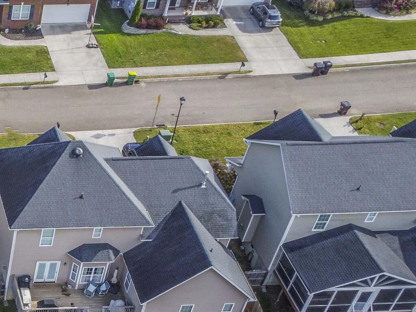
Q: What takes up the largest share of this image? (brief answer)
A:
buildings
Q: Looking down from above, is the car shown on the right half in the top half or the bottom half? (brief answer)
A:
top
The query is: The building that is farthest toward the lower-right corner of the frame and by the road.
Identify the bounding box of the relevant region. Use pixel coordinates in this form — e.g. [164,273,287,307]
[217,104,416,312]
